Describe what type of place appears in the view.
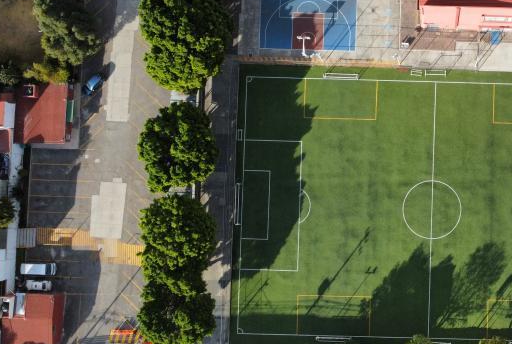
sports ground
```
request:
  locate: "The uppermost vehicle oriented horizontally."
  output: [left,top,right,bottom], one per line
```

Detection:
[16,263,57,278]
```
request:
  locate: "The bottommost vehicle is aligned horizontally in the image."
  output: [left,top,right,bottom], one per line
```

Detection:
[25,280,53,292]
